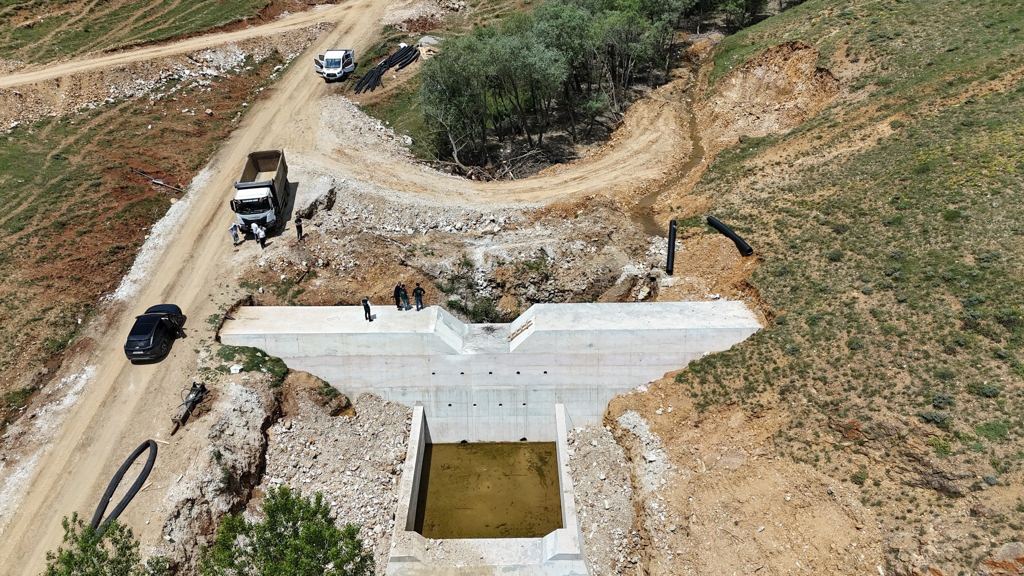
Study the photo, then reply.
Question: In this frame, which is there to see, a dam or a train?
dam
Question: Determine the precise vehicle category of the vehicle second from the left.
truck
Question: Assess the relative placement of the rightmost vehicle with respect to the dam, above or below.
above it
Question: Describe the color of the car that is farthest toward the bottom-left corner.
black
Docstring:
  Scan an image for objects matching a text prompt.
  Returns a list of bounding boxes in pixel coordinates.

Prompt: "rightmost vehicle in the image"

[317,45,357,79]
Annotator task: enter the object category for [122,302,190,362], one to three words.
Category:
car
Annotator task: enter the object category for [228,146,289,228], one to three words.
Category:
truck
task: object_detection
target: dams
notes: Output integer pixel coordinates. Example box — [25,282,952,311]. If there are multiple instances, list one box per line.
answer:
[217,303,765,442]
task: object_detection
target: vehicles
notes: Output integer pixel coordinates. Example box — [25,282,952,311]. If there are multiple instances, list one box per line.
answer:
[317,45,357,79]
[228,146,289,228]
[122,302,190,362]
